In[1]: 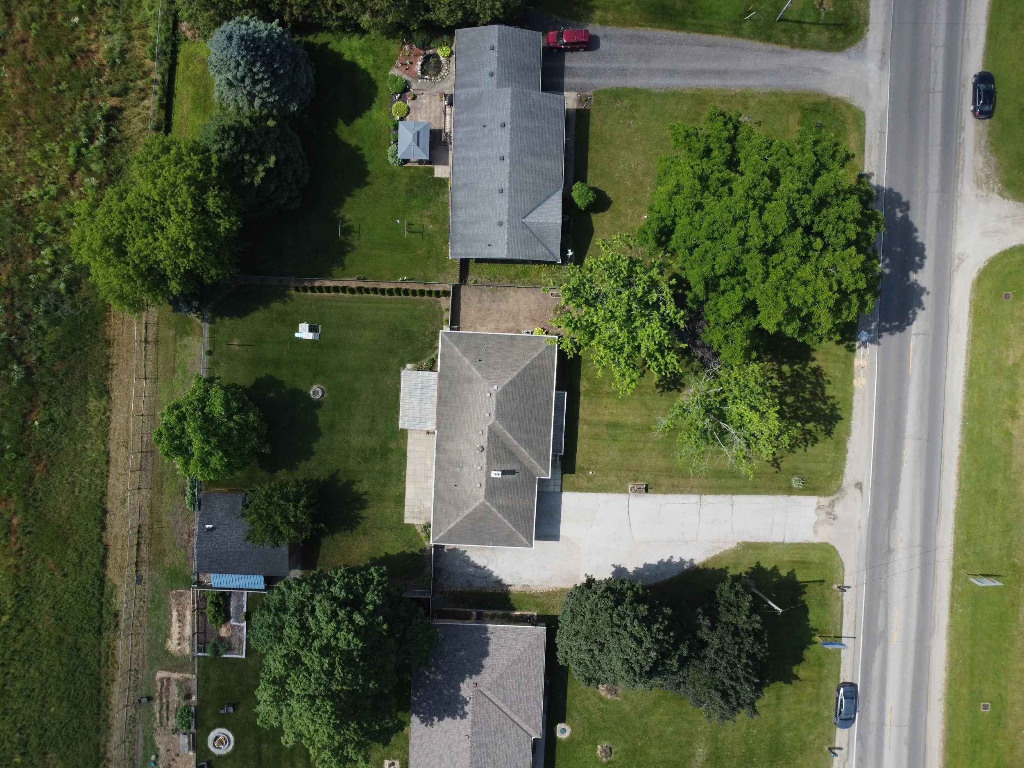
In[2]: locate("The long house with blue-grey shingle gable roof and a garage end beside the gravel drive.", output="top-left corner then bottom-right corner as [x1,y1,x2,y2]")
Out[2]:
[449,24,566,265]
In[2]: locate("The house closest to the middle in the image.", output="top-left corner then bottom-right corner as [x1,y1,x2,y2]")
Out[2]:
[431,330,558,549]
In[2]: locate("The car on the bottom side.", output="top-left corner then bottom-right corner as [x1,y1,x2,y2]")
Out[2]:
[835,681,861,729]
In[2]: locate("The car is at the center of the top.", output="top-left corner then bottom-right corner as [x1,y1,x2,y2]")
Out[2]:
[546,26,591,52]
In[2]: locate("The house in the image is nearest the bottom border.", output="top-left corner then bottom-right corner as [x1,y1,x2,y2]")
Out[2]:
[407,616,550,768]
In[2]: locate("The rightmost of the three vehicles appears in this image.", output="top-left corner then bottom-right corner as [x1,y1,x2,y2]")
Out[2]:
[973,69,1000,118]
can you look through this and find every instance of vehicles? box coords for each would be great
[973,69,1000,118]
[835,681,861,729]
[546,26,591,52]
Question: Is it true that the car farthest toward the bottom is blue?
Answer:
Yes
